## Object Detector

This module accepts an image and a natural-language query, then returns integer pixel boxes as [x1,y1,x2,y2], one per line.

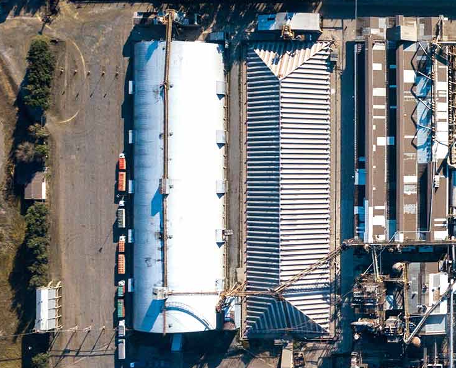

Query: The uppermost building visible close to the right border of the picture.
[355,15,453,241]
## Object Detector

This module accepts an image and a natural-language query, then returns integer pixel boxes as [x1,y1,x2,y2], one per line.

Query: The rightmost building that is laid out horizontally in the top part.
[258,14,329,35]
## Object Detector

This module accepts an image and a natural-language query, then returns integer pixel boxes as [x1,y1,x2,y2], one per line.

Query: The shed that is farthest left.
[24,171,49,200]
